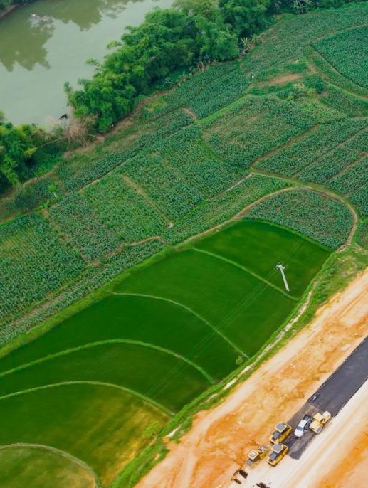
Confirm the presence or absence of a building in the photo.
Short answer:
No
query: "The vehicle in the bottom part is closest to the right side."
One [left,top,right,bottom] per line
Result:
[308,410,331,436]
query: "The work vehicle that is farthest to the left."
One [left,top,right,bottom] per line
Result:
[246,441,271,468]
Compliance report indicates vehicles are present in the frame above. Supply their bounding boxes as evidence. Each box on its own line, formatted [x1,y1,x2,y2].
[246,441,271,468]
[266,439,291,466]
[308,410,331,436]
[290,414,314,438]
[269,420,294,444]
